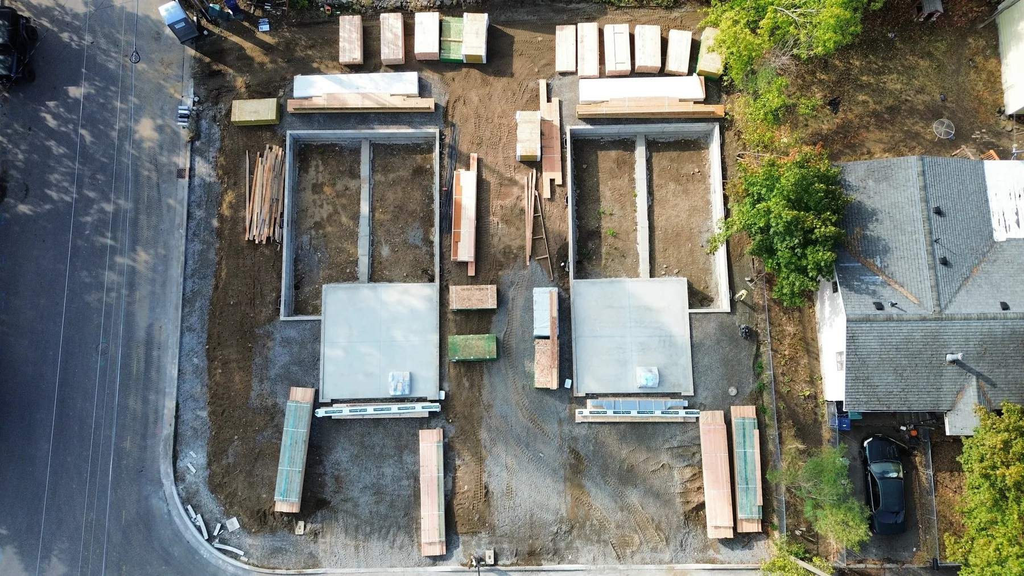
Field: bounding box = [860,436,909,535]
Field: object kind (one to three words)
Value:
car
